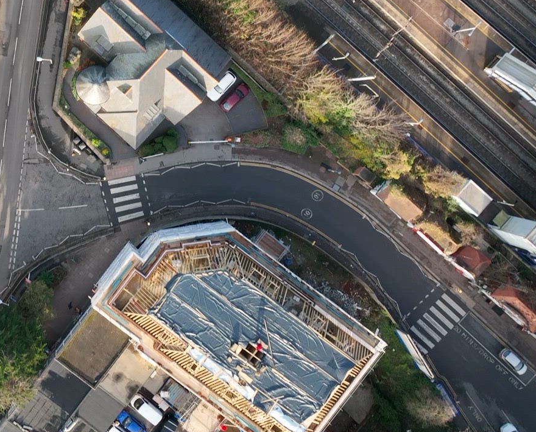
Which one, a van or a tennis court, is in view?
van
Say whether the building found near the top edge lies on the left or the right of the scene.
left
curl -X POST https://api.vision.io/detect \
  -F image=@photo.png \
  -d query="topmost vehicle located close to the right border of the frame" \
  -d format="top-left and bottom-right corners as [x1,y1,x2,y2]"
[496,345,529,376]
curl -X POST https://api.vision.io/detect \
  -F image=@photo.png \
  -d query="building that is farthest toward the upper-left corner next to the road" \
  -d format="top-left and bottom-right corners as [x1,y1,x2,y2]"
[74,0,232,150]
